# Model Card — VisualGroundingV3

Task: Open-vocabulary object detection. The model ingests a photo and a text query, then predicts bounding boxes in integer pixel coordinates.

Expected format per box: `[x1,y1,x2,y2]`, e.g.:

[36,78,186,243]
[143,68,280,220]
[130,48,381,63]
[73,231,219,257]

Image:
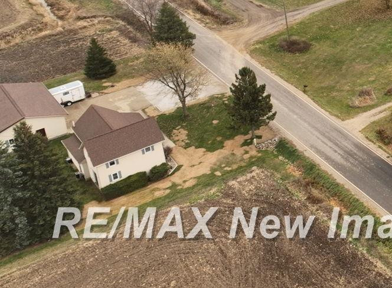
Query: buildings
[0,81,70,156]
[54,104,165,190]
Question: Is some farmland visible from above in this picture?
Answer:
Yes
